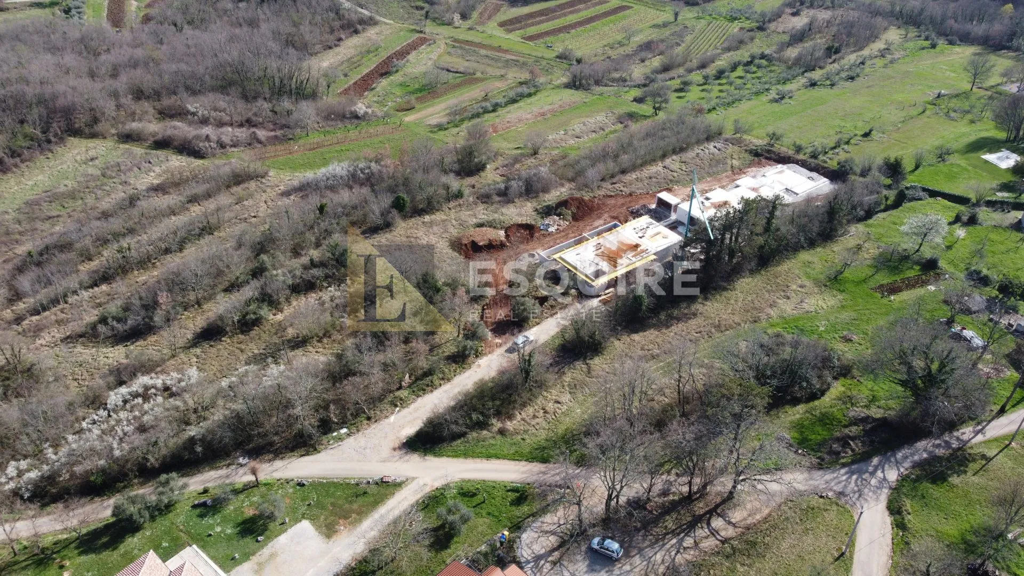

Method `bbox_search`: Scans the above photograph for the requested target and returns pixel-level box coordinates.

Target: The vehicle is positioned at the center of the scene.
[511,331,535,349]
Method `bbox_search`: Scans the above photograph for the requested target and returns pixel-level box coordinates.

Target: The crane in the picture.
[679,160,708,238]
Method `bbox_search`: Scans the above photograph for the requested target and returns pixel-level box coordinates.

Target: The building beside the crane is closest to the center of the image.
[554,217,684,295]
